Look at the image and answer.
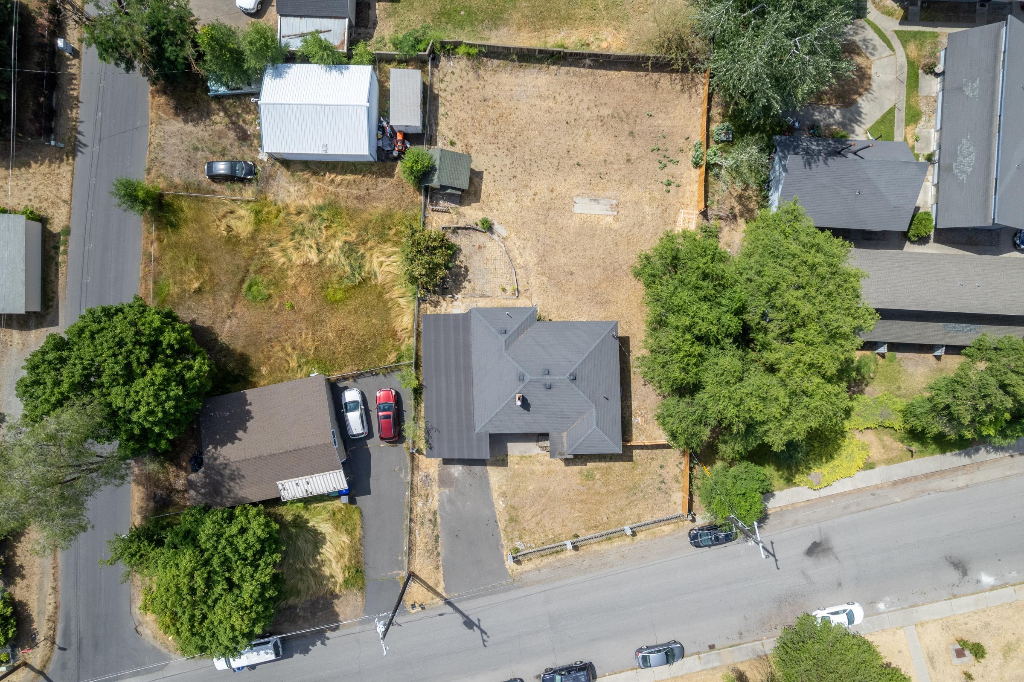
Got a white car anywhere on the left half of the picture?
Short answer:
Yes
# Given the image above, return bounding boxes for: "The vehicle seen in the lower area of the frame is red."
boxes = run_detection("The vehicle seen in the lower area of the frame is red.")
[374,388,400,441]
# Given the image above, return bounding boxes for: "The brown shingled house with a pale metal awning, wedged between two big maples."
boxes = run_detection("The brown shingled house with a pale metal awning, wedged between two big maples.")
[188,368,353,505]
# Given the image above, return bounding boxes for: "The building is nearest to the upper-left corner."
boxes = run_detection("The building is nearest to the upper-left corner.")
[0,214,42,315]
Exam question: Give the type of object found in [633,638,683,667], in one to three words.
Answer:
car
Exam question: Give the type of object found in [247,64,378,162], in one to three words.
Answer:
building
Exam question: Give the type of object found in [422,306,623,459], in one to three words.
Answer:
house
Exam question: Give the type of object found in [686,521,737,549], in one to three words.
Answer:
car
